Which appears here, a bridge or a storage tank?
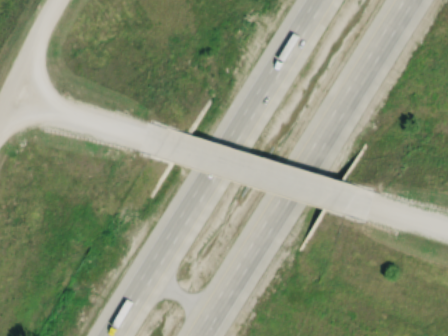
bridge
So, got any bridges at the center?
Yes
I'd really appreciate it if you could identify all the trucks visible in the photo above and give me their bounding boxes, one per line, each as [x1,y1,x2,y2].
[274,34,299,70]
[108,300,132,335]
